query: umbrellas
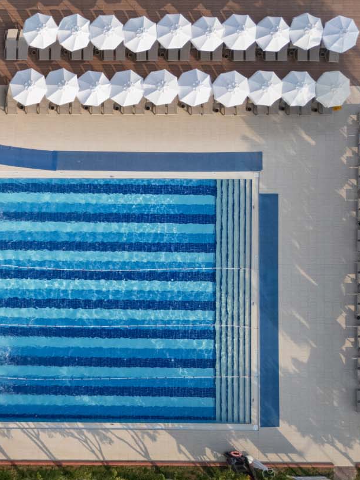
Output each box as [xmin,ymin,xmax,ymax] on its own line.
[223,16,255,51]
[312,75,346,106]
[89,16,123,51]
[177,71,211,105]
[22,14,57,48]
[55,17,89,51]
[253,17,288,50]
[121,17,156,52]
[320,17,357,52]
[285,14,324,48]
[280,72,316,106]
[186,16,224,51]
[44,70,78,104]
[212,72,247,106]
[154,14,189,48]
[108,71,142,105]
[10,70,44,104]
[77,72,110,106]
[247,72,281,105]
[141,71,176,105]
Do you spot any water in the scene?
Yes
